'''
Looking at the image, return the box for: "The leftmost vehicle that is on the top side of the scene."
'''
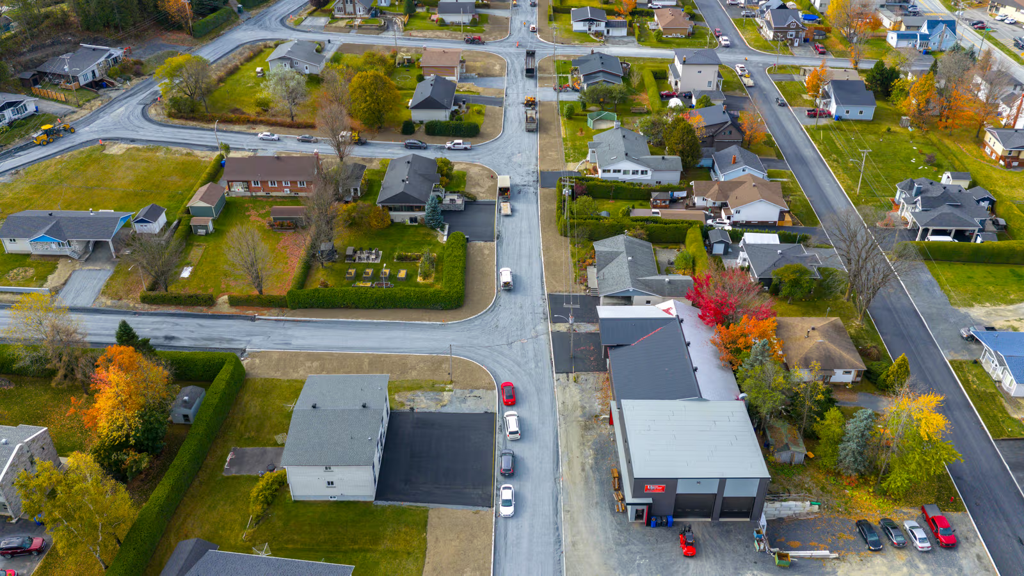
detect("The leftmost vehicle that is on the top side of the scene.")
[32,124,75,148]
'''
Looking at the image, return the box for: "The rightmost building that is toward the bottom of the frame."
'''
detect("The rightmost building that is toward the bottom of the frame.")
[967,329,1024,403]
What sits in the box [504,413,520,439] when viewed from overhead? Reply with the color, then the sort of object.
white car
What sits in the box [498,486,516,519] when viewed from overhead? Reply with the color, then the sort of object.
white car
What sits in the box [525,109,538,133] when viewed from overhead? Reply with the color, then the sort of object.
gray vehicle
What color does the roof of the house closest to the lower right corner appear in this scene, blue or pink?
blue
